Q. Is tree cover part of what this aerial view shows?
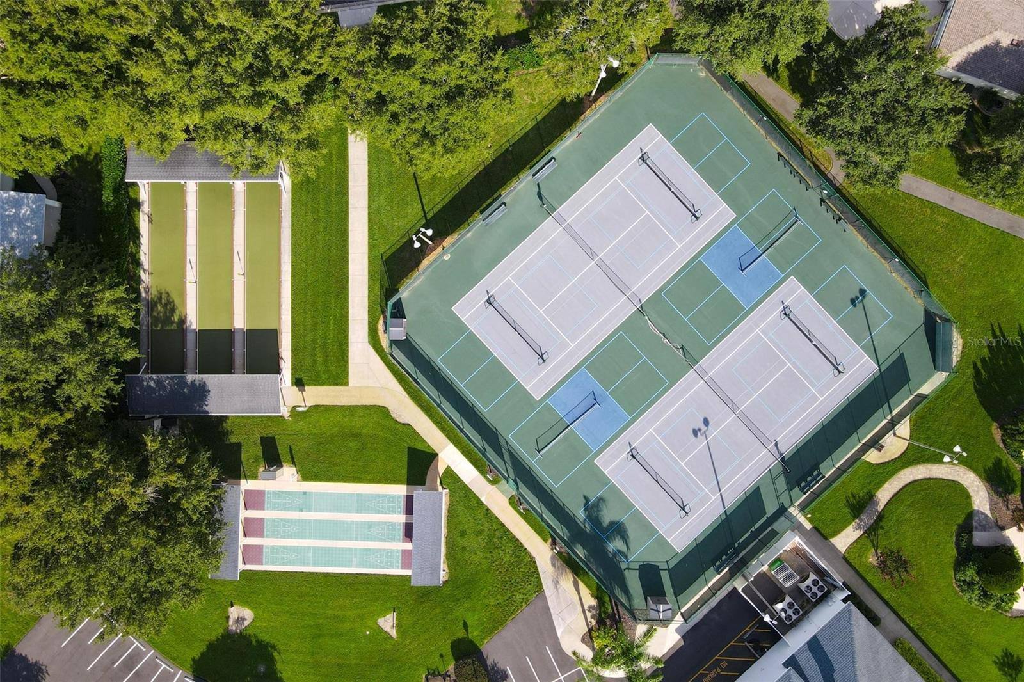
Yes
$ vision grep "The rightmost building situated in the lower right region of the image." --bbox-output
[735,589,925,682]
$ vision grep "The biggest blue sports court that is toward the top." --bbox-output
[662,189,822,345]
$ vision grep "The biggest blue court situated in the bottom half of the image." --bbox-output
[509,332,668,487]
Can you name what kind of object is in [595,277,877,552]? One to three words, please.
tennis court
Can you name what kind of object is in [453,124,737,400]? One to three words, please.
tennis court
